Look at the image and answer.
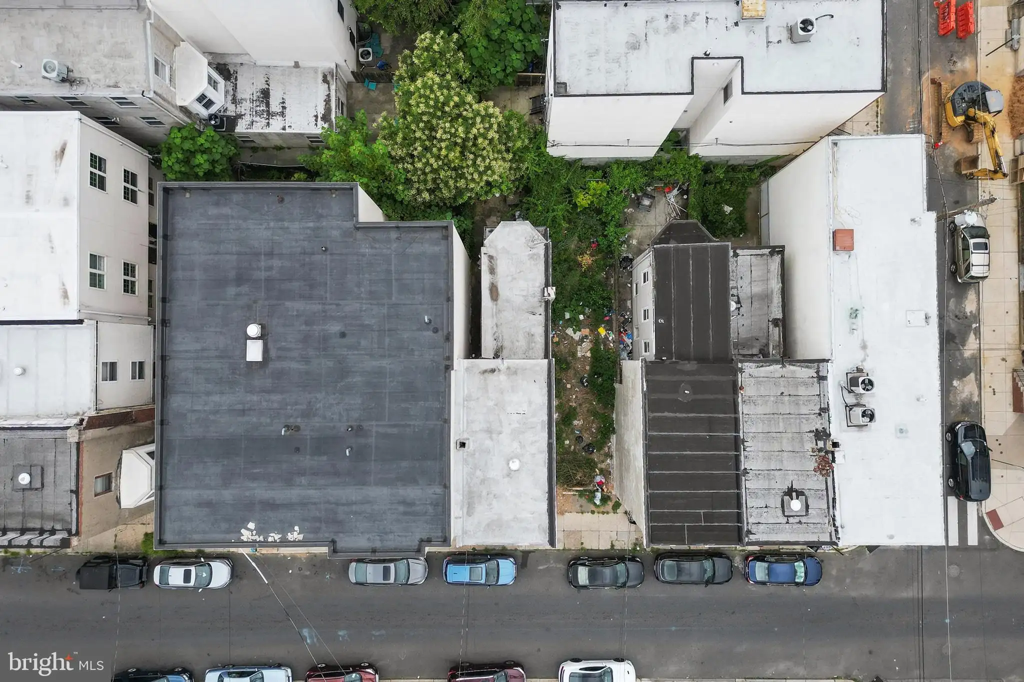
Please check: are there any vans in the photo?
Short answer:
Yes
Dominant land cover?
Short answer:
buildings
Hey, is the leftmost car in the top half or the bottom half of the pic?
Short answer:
bottom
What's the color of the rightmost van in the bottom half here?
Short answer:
black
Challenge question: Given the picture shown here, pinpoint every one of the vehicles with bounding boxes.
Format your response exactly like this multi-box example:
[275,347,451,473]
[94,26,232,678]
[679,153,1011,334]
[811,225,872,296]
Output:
[566,555,644,592]
[559,658,635,682]
[349,558,428,590]
[653,551,733,589]
[443,552,517,590]
[742,553,822,590]
[943,420,991,504]
[154,555,236,593]
[68,552,151,592]
[305,664,381,682]
[113,666,197,682]
[947,214,991,285]
[936,85,1010,180]
[207,663,293,682]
